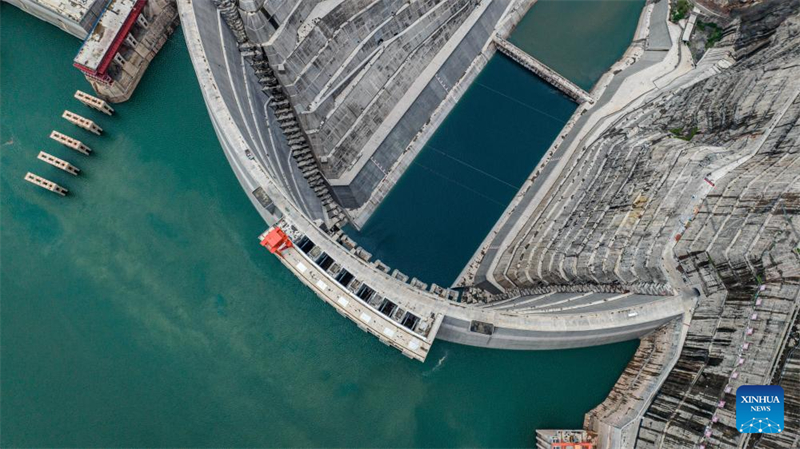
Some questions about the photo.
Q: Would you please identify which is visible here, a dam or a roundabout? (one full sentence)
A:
The image shows a dam.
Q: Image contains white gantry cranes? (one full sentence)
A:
No, no white gantry crane is visible in the view.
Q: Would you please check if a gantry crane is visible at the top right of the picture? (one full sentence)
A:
No, looking at the top right of the picture, there is no gantry crane.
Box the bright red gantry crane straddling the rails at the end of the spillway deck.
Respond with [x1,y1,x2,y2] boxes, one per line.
[260,230,292,261]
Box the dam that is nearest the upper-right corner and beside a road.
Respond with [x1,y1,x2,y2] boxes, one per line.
[493,36,593,108]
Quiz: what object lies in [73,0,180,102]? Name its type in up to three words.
building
